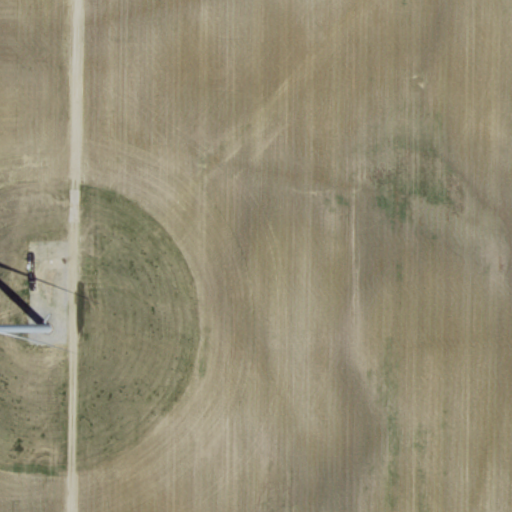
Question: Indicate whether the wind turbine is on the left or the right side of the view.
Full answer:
The wind turbine is on the left side of the image.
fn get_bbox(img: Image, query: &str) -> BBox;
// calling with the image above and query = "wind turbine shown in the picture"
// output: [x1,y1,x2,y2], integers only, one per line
[0,314,71,350]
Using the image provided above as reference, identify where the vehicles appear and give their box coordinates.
[28,272,36,290]
[27,252,34,271]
